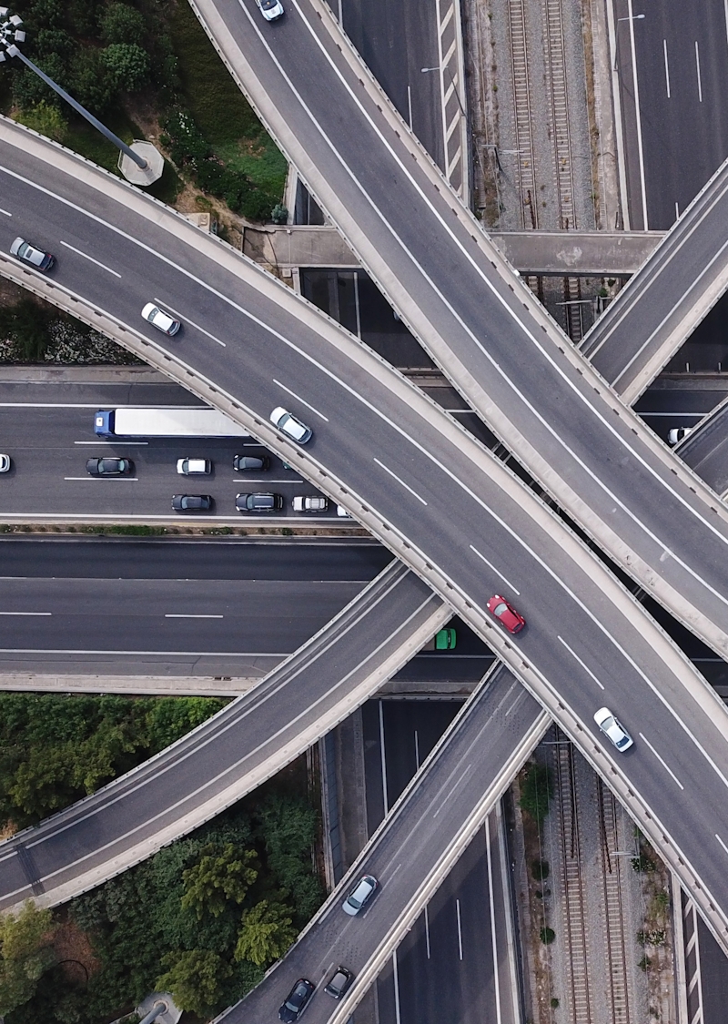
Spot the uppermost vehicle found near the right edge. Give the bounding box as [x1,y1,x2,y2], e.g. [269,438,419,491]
[668,425,695,445]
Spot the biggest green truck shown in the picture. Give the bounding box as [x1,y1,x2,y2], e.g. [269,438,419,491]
[422,626,459,652]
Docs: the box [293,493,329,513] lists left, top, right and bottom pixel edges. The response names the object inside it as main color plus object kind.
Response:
white car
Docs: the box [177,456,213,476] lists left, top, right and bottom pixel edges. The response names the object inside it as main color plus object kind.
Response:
white car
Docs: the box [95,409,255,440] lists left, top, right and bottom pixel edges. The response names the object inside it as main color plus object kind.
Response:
white truck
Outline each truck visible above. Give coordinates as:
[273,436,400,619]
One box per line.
[422,626,459,652]
[95,409,255,440]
